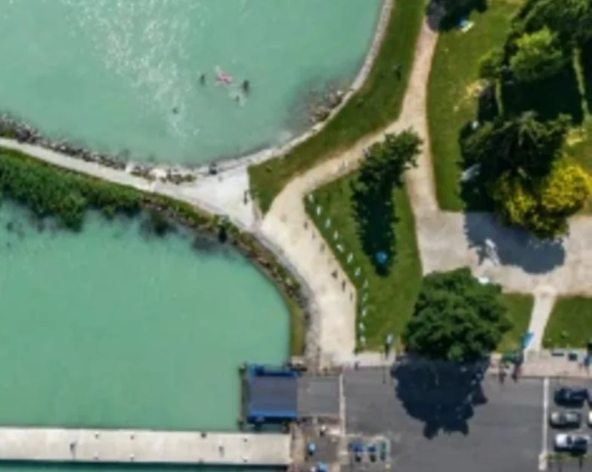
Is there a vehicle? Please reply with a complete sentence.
Yes, I can see a vehicle in this picture.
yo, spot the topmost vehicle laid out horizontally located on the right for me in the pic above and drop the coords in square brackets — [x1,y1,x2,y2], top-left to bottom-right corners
[552,387,588,405]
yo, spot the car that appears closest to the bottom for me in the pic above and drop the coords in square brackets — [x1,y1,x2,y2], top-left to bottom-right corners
[552,434,588,452]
